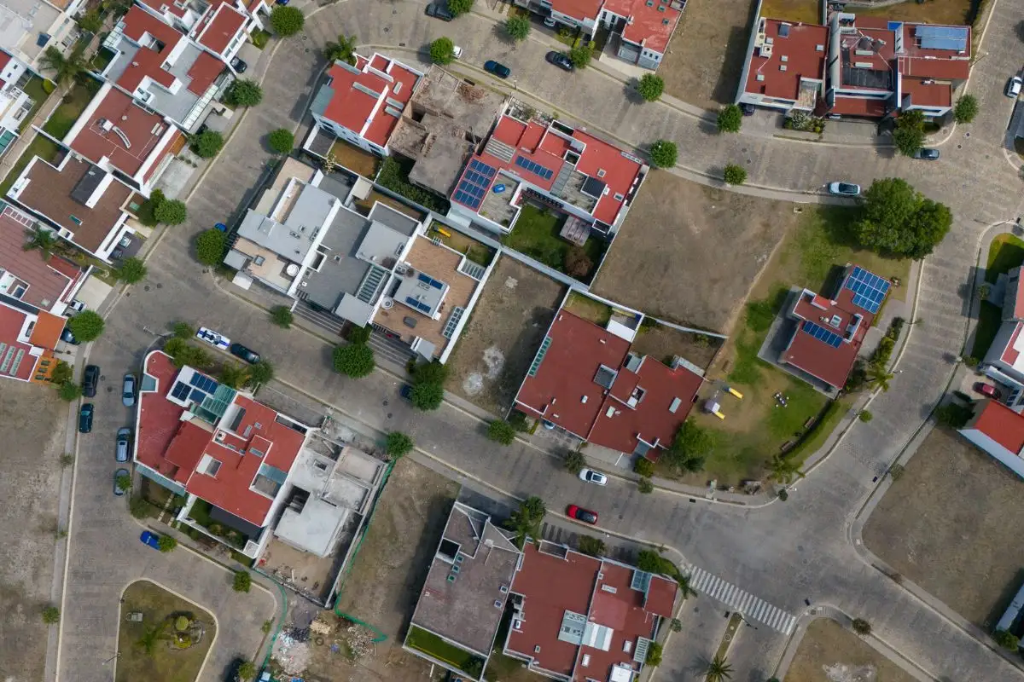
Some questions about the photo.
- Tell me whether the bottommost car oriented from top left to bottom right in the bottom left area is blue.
Yes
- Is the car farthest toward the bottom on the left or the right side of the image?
left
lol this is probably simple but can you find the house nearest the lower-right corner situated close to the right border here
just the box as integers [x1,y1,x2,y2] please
[996,587,1024,651]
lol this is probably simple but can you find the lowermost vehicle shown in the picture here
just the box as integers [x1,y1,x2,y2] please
[222,652,245,682]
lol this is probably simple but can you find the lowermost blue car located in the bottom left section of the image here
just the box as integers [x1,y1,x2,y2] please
[137,529,167,551]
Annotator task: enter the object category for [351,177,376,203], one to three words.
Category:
shed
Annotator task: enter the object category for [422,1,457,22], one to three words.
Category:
vehicle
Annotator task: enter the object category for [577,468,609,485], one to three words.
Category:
car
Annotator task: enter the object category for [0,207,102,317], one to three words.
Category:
house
